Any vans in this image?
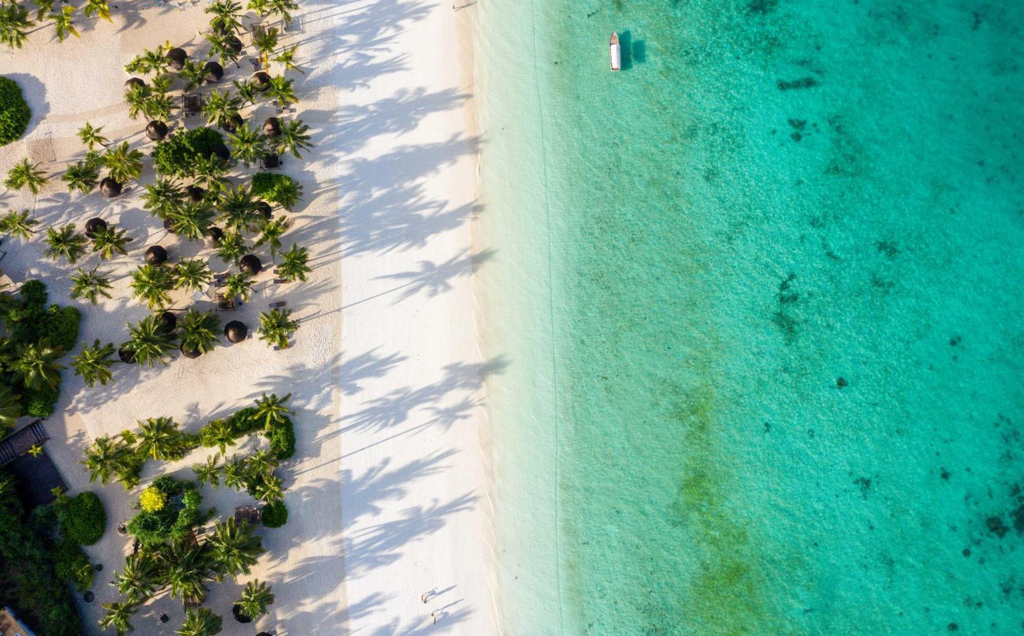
No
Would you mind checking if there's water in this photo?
Yes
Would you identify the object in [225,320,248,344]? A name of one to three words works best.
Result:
umbrella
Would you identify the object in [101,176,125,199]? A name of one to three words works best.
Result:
umbrella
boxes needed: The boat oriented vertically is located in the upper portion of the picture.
[609,32,621,72]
